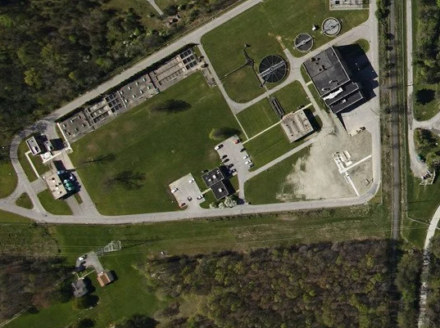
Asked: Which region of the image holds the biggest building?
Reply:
top right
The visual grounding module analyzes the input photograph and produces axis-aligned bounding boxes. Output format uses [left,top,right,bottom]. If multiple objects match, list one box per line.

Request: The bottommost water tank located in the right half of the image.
[258,55,288,83]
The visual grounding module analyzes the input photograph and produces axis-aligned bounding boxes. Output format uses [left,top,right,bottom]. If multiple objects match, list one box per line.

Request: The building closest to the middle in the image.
[202,167,232,200]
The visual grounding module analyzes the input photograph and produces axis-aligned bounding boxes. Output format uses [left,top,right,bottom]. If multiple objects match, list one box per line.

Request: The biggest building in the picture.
[302,46,366,113]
